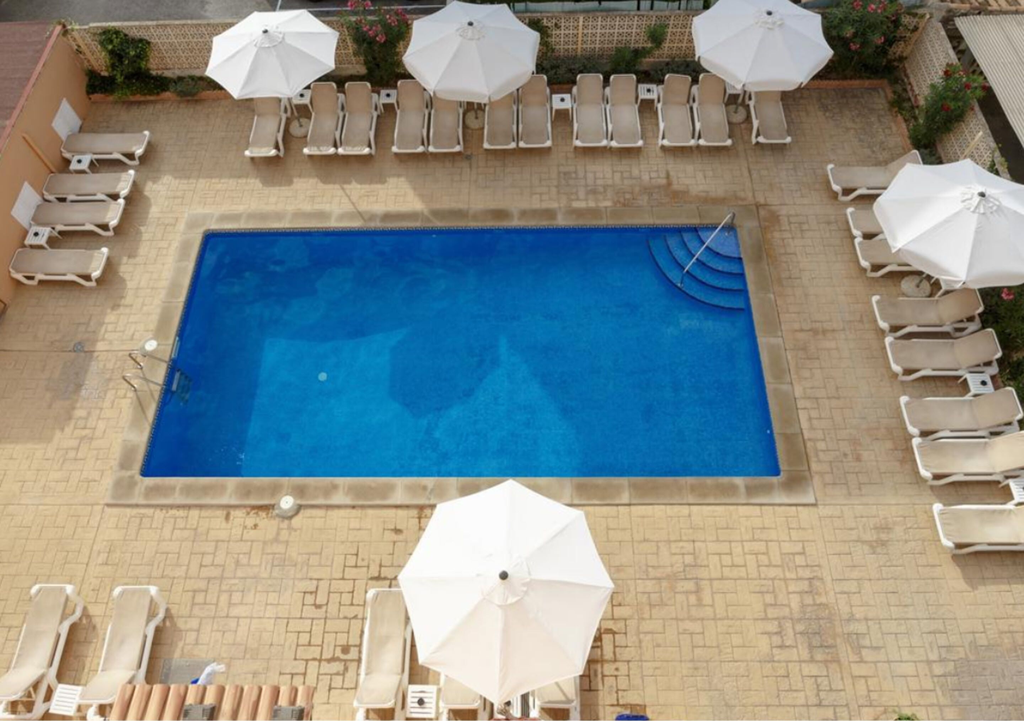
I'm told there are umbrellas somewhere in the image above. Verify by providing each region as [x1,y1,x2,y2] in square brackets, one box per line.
[403,0,541,129]
[203,10,340,136]
[396,479,616,704]
[876,154,1024,298]
[694,0,832,124]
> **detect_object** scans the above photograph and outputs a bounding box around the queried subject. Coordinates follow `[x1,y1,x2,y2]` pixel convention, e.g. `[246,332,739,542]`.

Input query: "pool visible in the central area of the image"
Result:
[150,234,775,476]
